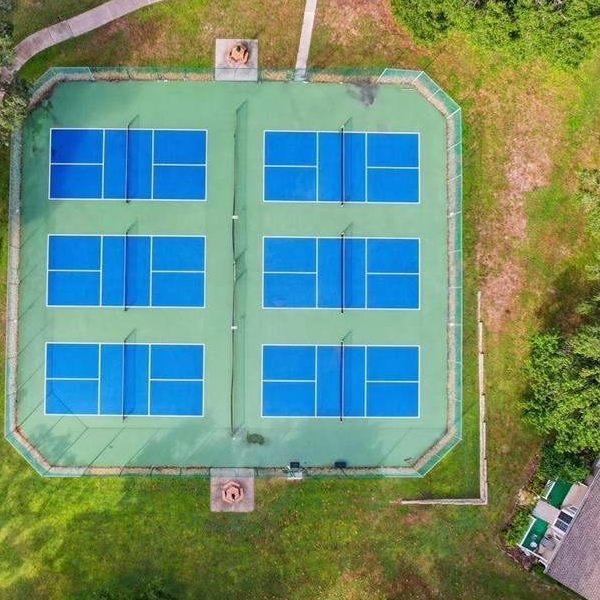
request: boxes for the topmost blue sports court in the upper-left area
[49,121,207,206]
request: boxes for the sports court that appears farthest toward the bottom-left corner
[46,338,204,423]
